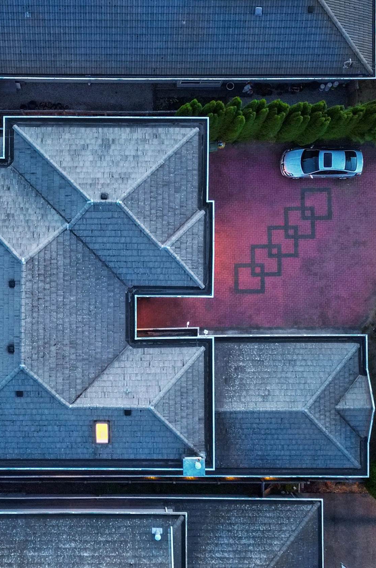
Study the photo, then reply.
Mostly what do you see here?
buildings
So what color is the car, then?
blue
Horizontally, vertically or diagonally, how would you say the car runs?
horizontally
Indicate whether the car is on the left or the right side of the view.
right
